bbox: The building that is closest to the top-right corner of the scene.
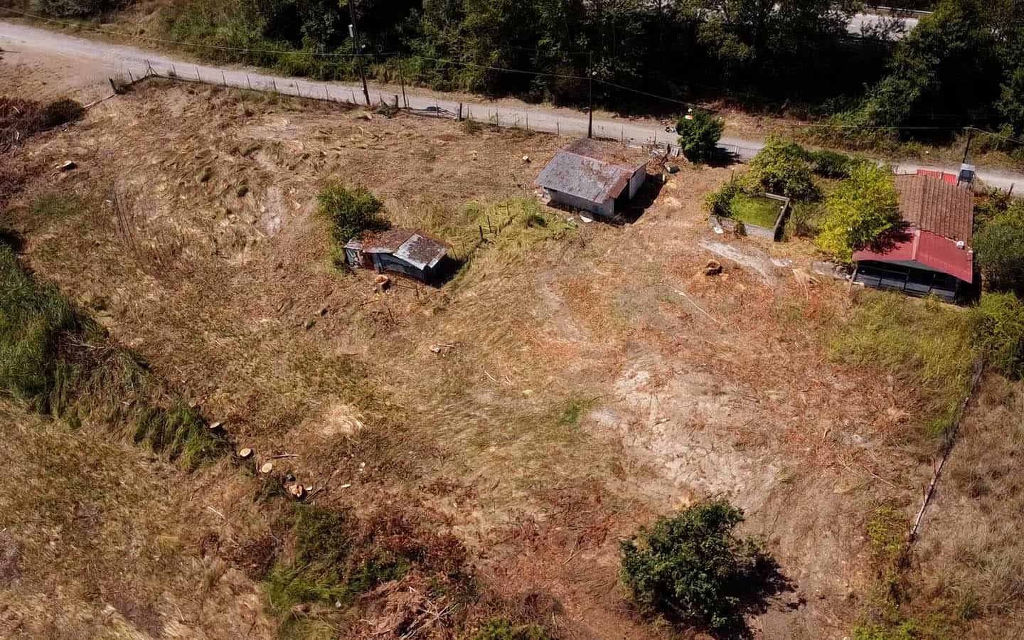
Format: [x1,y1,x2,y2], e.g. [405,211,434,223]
[852,166,976,307]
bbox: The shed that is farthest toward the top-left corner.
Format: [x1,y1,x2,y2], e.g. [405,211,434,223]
[342,227,449,282]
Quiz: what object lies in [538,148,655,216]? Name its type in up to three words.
shed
